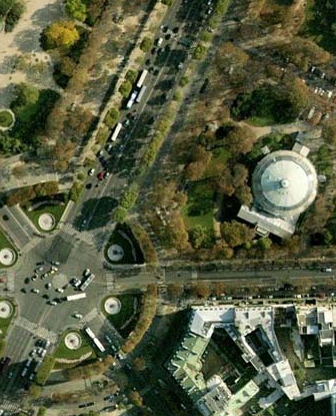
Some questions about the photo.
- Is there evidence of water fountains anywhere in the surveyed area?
Yes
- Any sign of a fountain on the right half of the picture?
No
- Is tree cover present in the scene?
Yes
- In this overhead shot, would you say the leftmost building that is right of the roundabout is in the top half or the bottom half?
bottom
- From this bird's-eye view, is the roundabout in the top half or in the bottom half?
bottom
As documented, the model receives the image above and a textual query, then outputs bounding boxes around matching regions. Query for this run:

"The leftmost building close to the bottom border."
[166,332,209,402]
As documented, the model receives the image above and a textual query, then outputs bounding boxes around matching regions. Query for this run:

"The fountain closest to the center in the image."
[107,243,125,262]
